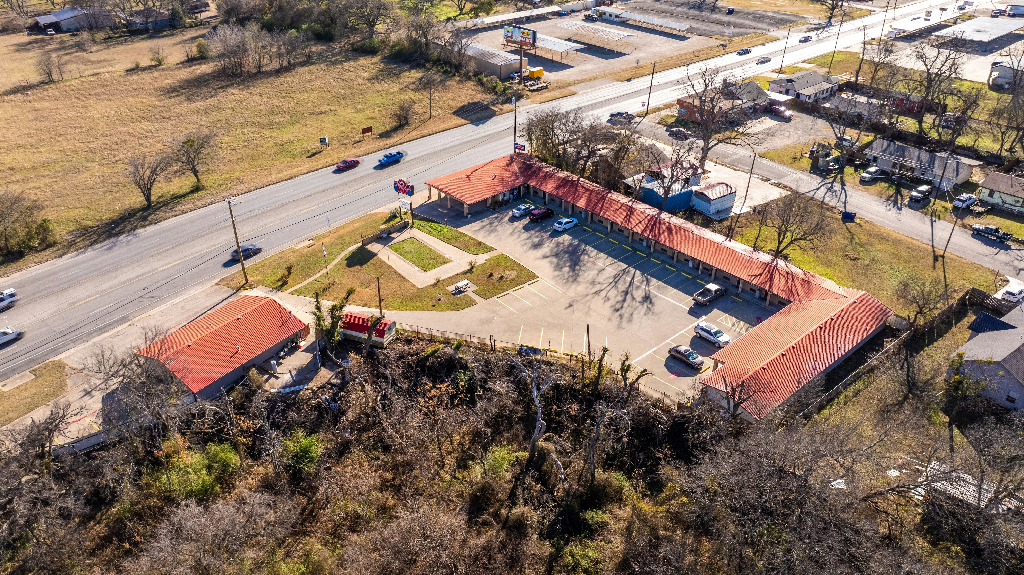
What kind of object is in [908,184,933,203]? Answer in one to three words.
car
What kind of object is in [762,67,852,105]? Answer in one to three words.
house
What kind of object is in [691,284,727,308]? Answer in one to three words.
truck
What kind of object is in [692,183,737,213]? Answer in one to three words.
shed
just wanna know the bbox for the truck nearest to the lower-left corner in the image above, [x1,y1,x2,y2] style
[0,327,26,348]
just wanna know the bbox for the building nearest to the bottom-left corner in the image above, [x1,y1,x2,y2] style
[137,295,306,404]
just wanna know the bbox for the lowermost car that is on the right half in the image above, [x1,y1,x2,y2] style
[667,345,705,371]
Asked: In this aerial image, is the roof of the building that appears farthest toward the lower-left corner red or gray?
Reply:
red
